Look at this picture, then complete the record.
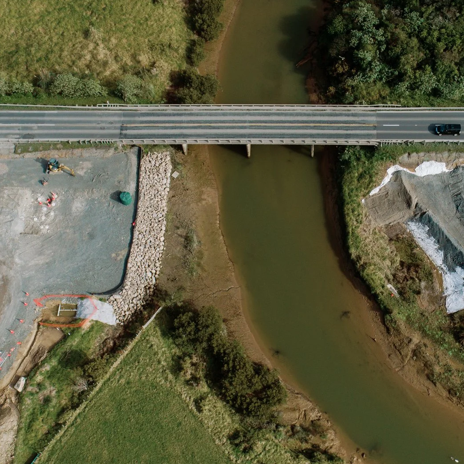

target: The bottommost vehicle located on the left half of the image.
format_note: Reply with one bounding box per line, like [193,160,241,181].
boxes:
[45,161,70,180]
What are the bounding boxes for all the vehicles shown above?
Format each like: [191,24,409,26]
[437,122,463,135]
[45,161,70,180]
